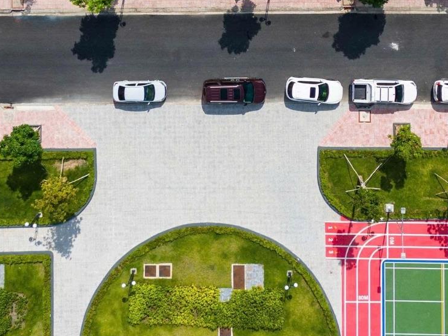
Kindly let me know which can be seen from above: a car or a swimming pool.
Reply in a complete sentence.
The image shows a car.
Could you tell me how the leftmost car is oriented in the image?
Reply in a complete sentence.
What the image shows is the leftmost car lying from left to right.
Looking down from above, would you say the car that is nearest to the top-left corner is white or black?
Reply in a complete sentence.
In this view, the car that is nearest to the top-left corner is white.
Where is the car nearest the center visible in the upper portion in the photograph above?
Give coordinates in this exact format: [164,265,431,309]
[202,76,265,108]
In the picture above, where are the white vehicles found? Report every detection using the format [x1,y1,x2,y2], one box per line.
[349,79,416,108]
[113,79,167,106]
[432,79,448,104]
[284,76,341,107]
